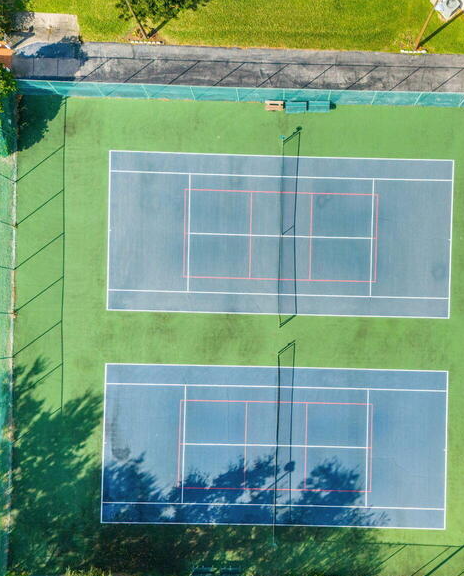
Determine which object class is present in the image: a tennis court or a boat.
tennis court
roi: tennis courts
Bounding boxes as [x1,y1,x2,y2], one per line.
[102,364,447,528]
[107,151,453,318]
